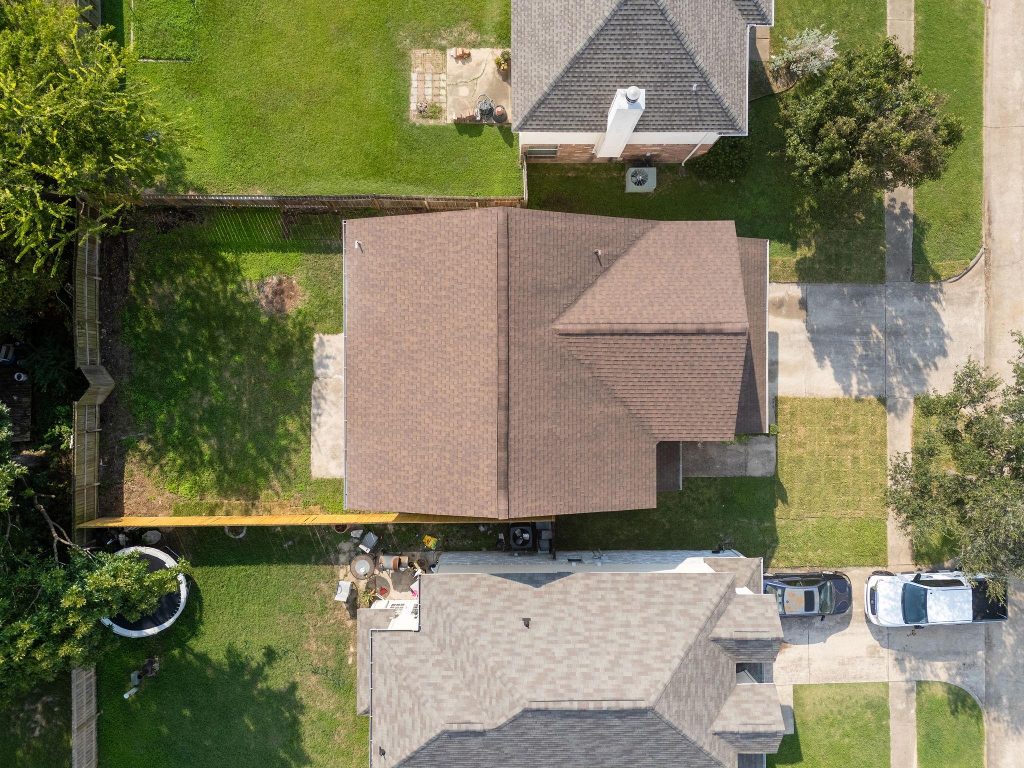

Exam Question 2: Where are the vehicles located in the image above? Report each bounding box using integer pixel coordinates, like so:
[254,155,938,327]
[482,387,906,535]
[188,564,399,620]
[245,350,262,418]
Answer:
[764,573,854,621]
[862,574,1005,634]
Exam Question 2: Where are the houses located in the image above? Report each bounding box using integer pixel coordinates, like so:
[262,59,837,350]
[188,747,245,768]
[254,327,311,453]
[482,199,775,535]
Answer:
[355,546,786,768]
[342,206,771,521]
[509,0,777,172]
